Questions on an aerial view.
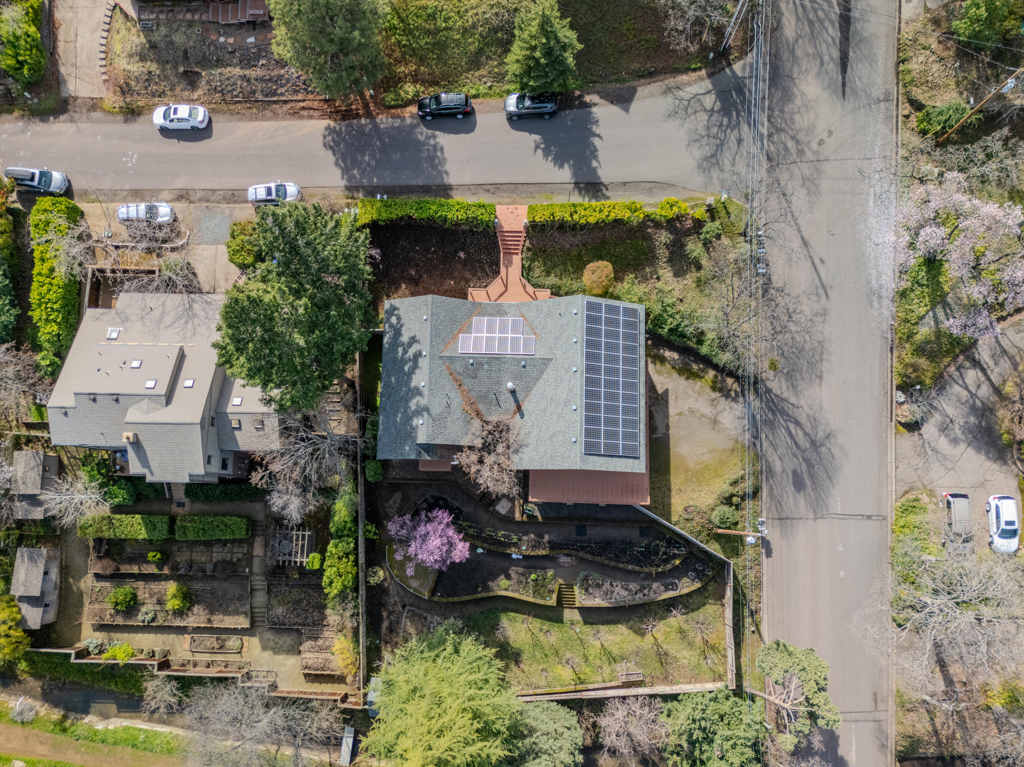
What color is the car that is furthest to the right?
white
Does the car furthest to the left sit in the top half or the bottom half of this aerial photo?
top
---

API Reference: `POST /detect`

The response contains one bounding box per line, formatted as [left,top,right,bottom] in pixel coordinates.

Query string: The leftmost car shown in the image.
[0,166,70,199]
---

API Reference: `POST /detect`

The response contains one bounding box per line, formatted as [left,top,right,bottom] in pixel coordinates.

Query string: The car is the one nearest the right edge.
[985,496,1021,554]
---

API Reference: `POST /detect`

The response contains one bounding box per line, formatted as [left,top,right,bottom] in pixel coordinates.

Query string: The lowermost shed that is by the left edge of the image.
[10,548,66,629]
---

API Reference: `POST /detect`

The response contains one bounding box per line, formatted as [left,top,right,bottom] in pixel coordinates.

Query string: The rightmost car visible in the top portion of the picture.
[503,96,559,126]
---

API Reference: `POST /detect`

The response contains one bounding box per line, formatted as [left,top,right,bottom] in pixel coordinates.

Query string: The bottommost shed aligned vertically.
[367,674,389,717]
